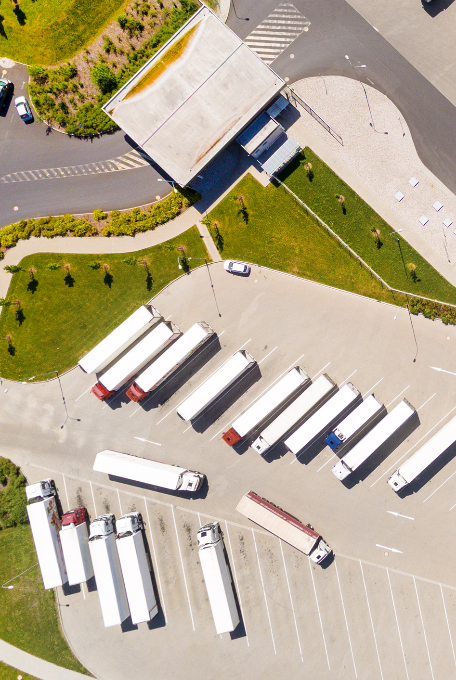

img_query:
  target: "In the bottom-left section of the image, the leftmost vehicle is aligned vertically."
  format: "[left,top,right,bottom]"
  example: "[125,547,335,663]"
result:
[27,478,69,589]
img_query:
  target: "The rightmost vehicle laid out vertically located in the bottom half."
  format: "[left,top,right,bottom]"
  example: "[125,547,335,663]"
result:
[196,522,239,634]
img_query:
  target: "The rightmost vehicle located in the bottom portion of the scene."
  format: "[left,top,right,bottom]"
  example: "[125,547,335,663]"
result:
[387,415,456,492]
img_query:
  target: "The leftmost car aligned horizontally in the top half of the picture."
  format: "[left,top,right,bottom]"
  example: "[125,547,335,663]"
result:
[223,260,252,275]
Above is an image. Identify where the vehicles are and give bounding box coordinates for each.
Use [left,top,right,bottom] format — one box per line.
[196,522,239,634]
[0,80,14,111]
[125,321,216,403]
[322,392,384,450]
[331,397,415,480]
[90,321,181,403]
[60,502,95,583]
[223,260,252,275]
[236,489,336,560]
[221,365,310,447]
[115,512,158,624]
[249,373,337,456]
[93,450,205,494]
[387,415,456,492]
[17,97,34,122]
[27,478,69,589]
[89,513,129,626]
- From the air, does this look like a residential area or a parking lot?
parking lot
